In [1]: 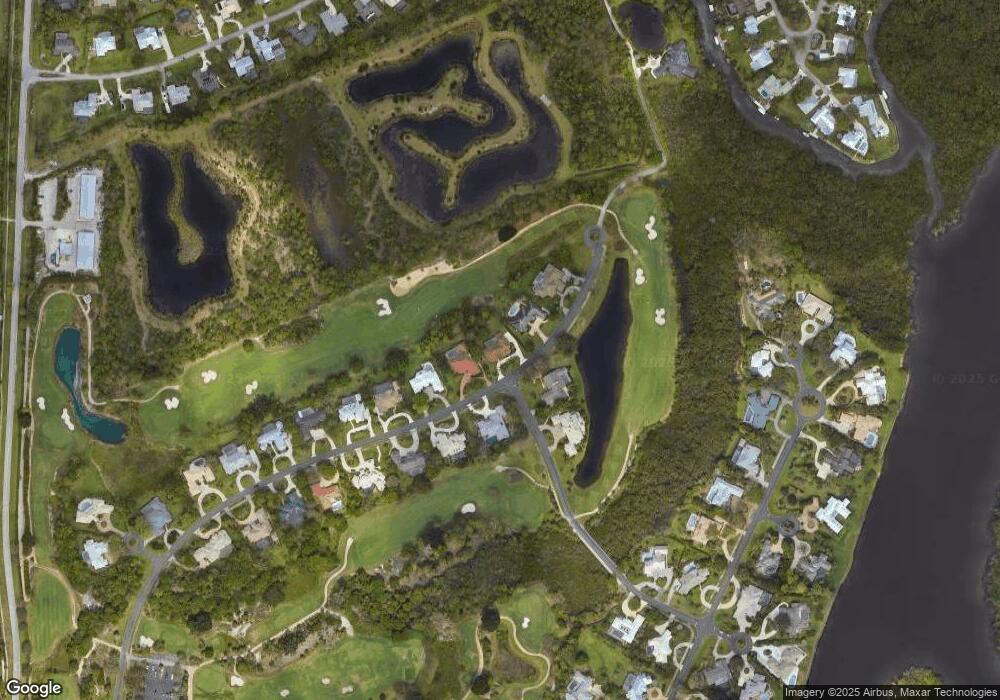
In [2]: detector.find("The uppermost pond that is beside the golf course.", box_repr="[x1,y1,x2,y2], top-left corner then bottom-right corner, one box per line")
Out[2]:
[350,37,562,220]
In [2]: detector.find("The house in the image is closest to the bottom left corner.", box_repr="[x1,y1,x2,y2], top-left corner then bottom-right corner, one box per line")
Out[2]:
[81,543,107,564]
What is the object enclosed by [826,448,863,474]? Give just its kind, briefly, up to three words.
house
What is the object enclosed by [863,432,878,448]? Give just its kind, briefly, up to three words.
swimming pool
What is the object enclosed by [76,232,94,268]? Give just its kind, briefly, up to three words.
building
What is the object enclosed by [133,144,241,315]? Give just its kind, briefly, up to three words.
pond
